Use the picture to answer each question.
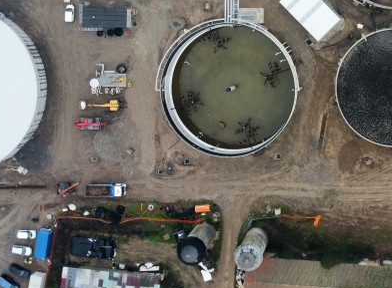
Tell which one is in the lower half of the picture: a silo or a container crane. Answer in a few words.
silo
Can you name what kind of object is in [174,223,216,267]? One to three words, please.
silo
